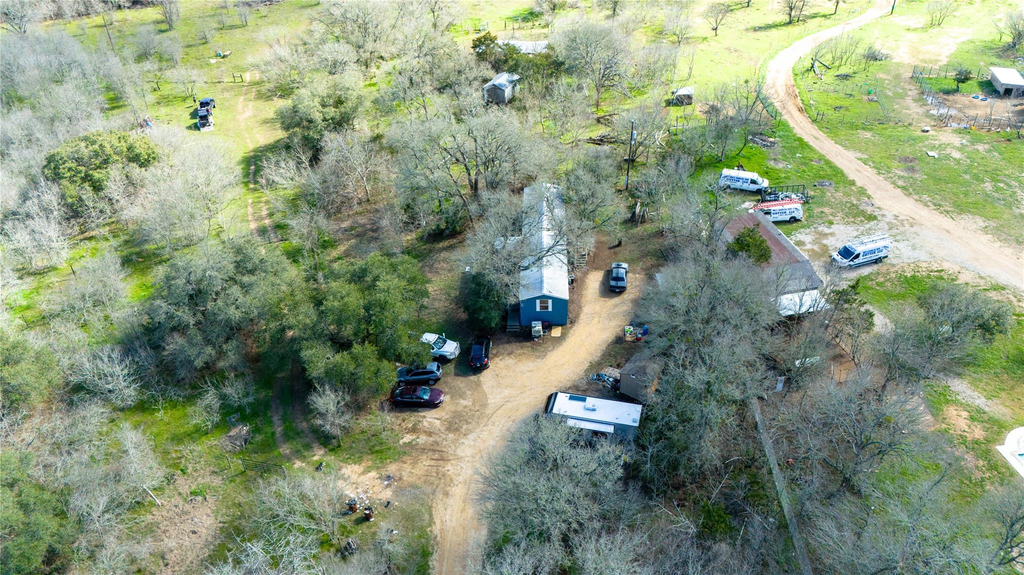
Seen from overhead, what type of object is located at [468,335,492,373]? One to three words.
car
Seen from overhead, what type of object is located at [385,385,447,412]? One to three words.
car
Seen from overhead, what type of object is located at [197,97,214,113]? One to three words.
vehicle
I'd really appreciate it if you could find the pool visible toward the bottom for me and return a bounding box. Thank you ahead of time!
[996,424,1024,471]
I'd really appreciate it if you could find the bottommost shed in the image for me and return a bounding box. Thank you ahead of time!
[619,350,681,409]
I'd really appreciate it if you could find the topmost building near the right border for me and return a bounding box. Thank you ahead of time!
[983,67,1024,101]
